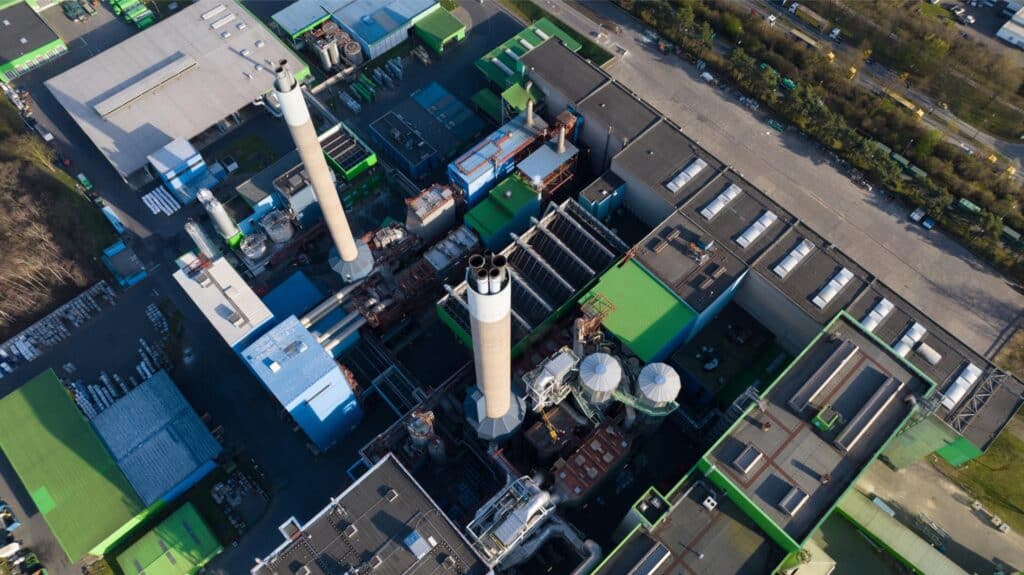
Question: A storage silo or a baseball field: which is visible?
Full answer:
The image shows a storage silo.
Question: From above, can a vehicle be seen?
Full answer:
Yes, I can see a vehicle in this picture.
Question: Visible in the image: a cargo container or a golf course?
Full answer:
Of the two, only a cargo container appears.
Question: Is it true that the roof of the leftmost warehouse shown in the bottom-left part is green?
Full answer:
Yes, the roof of the leftmost warehouse shown in the bottom-left part appears green.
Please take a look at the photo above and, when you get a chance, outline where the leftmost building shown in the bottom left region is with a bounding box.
[0,365,156,564]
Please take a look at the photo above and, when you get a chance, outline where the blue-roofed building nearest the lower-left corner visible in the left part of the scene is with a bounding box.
[93,370,229,510]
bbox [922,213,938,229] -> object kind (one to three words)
vehicle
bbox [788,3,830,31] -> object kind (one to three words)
truck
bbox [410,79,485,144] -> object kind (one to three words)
shed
